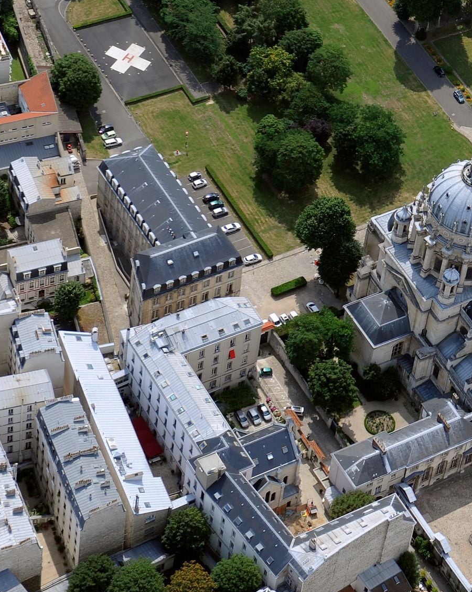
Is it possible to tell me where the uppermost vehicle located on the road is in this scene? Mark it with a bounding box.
[430,64,446,78]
